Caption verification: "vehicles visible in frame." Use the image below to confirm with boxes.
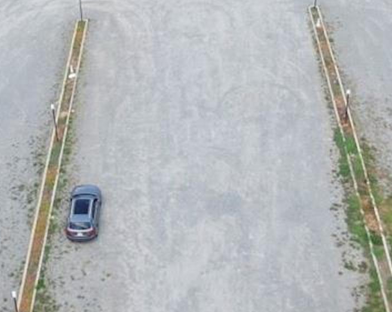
[64,181,101,238]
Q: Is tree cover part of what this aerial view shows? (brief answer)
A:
No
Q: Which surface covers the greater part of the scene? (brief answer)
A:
paved ground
